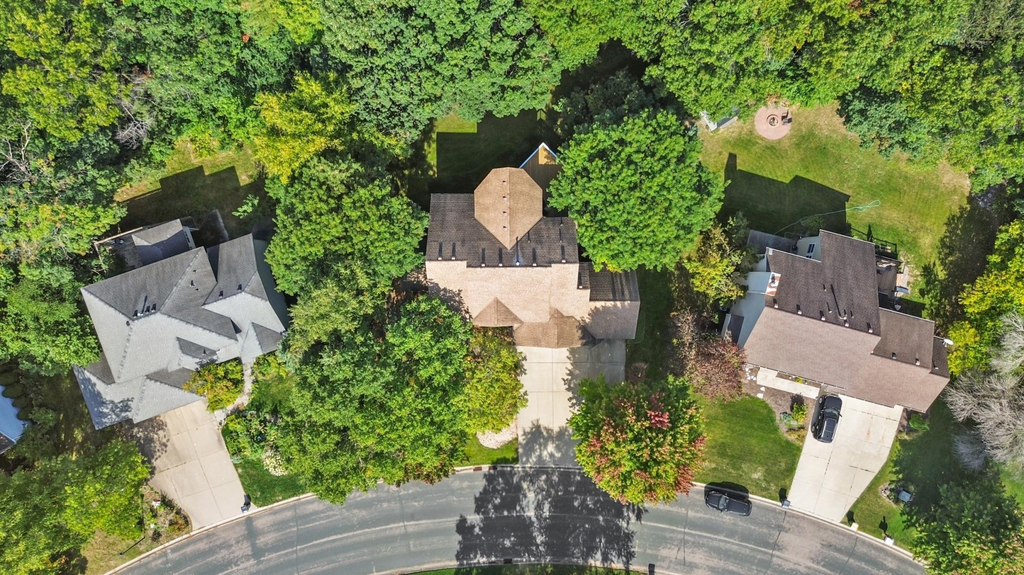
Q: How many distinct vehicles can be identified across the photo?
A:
2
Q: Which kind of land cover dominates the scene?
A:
trees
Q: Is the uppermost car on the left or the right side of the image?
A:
right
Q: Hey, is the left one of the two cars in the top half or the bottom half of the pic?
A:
bottom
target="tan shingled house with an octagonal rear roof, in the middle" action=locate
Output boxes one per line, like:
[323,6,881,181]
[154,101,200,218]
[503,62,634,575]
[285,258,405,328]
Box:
[426,167,640,348]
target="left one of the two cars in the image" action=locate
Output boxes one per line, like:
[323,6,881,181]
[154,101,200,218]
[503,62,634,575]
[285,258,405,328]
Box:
[704,485,753,515]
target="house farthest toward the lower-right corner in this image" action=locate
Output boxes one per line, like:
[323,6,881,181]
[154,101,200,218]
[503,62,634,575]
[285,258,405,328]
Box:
[716,228,950,413]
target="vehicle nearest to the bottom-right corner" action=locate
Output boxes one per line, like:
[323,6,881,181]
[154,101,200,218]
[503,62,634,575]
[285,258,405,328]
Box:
[812,393,843,444]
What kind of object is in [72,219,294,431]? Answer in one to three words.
house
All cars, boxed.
[812,393,843,444]
[704,485,753,515]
